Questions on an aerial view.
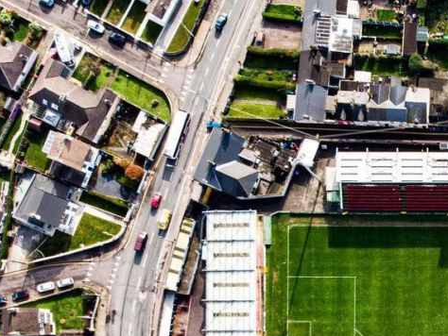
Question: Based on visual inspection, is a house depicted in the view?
Yes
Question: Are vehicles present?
Yes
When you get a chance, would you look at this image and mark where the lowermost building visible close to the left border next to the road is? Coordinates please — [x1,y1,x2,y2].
[2,307,49,336]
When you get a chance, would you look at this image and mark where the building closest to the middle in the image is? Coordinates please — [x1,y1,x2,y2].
[187,122,284,200]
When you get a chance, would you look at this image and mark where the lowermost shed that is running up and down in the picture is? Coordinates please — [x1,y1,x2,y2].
[154,291,177,336]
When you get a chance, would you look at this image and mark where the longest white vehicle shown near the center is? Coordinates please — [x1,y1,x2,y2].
[165,111,191,159]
